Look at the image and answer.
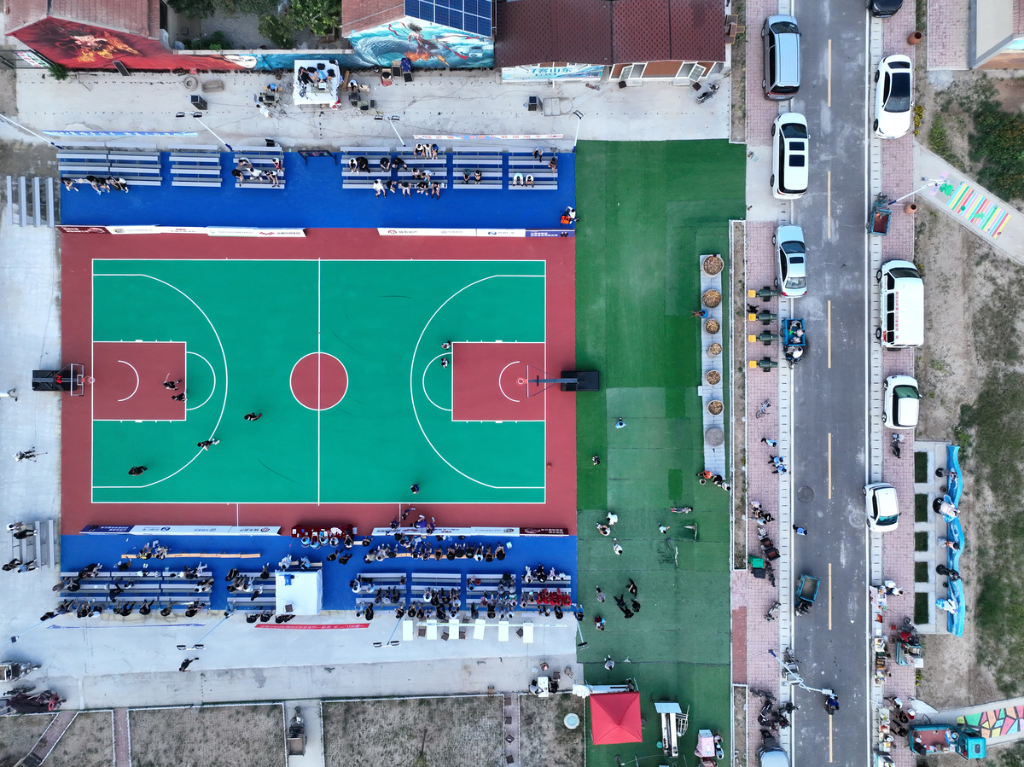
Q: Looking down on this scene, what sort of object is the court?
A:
basketball court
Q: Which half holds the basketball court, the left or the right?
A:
left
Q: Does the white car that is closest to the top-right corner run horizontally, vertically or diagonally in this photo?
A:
vertically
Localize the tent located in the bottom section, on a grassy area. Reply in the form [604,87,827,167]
[587,679,642,744]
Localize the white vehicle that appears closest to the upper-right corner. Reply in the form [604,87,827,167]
[872,54,916,140]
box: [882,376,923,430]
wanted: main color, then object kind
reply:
white car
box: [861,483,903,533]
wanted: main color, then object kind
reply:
white car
